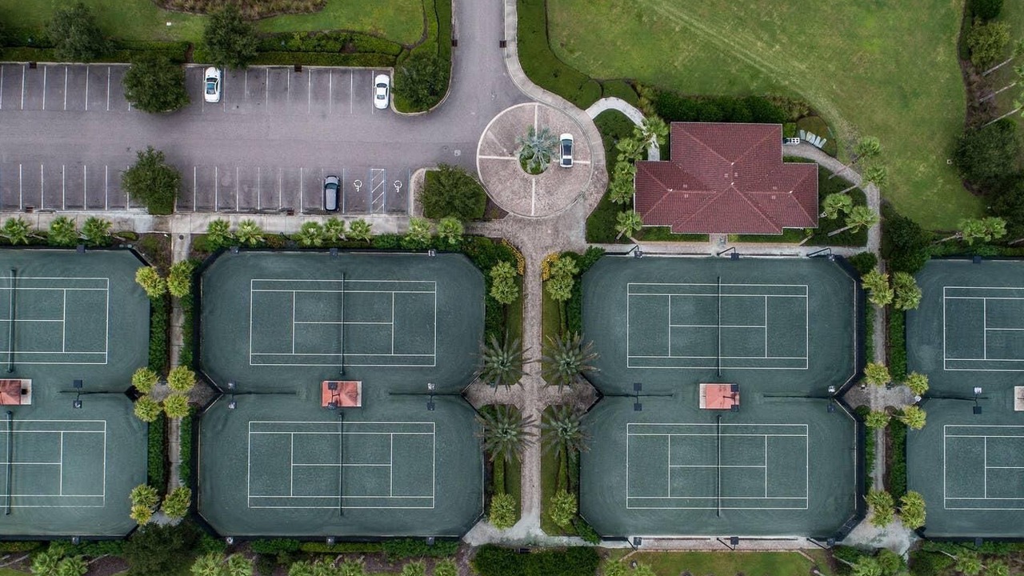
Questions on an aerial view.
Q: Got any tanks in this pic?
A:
No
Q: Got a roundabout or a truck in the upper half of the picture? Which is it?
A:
roundabout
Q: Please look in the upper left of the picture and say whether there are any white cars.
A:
Yes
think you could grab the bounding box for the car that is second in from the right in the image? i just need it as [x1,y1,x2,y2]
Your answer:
[373,76,390,109]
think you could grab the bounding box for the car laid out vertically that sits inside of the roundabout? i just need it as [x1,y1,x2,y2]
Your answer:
[559,135,575,168]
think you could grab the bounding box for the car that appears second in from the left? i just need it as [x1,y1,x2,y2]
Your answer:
[322,177,340,211]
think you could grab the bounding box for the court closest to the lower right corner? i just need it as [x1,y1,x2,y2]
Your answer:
[908,397,1024,536]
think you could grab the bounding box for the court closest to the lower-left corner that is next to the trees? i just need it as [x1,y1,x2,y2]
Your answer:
[0,392,147,536]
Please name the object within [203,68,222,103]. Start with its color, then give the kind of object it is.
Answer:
white car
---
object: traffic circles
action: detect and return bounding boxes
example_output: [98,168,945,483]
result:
[478,104,593,218]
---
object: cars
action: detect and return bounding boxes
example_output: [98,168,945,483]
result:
[203,68,222,103]
[559,135,575,168]
[322,177,340,211]
[373,76,390,109]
